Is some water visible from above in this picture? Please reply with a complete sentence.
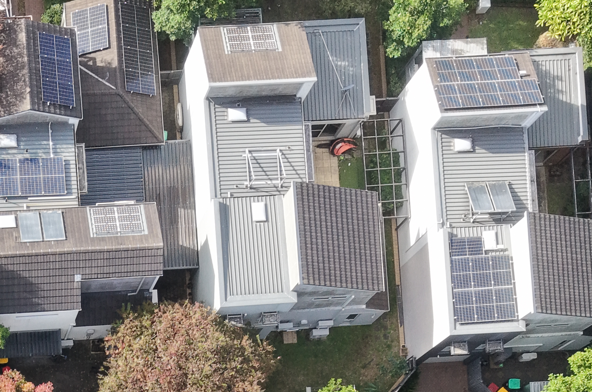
No, the scene doesn't show any water.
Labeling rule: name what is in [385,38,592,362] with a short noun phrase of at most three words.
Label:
house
